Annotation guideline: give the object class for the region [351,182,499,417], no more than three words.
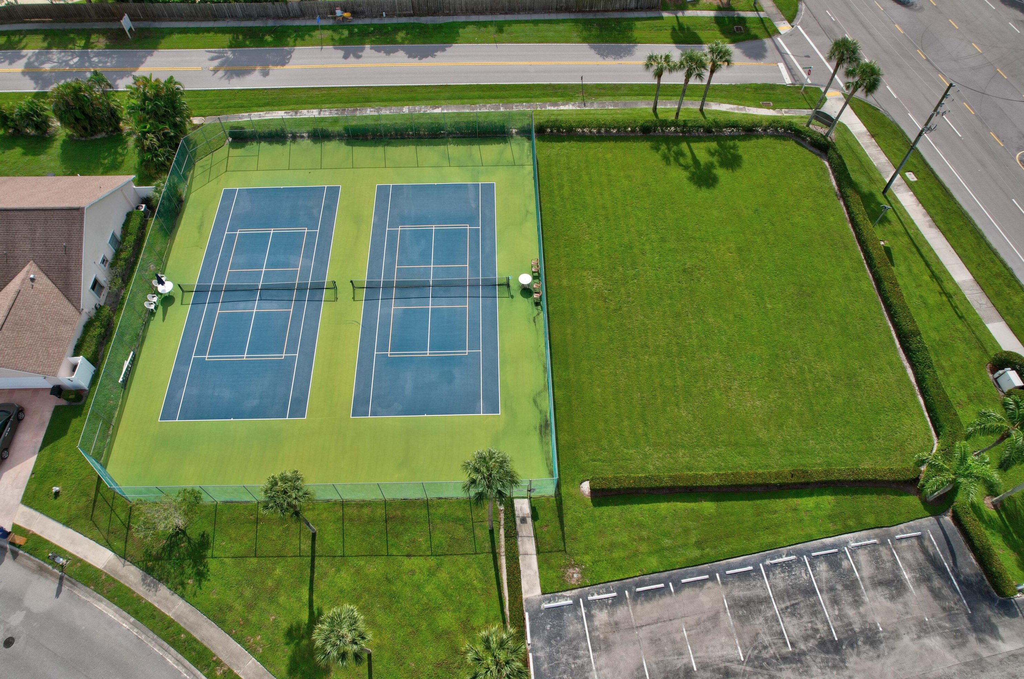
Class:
tennis court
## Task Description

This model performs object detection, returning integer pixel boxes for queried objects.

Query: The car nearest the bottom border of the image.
[0,403,21,455]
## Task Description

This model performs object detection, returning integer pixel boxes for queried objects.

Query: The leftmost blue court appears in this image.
[157,185,341,422]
